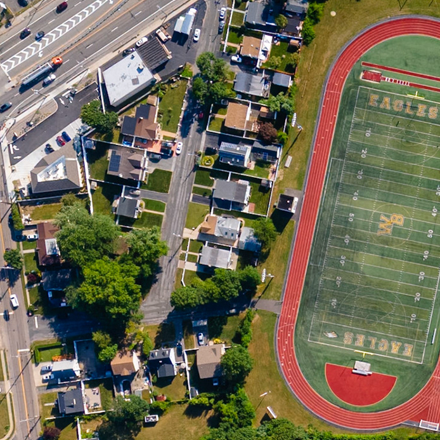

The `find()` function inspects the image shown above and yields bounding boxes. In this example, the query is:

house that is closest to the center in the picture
[200,216,244,240]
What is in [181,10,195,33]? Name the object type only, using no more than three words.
vehicle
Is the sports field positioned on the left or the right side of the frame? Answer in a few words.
right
